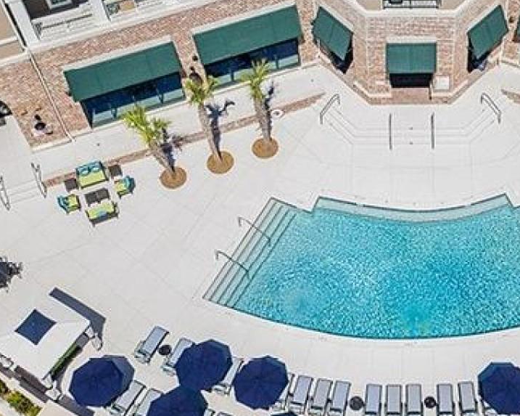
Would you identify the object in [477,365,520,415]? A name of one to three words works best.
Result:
umbrella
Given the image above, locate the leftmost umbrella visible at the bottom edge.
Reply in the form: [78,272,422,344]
[74,355,135,411]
